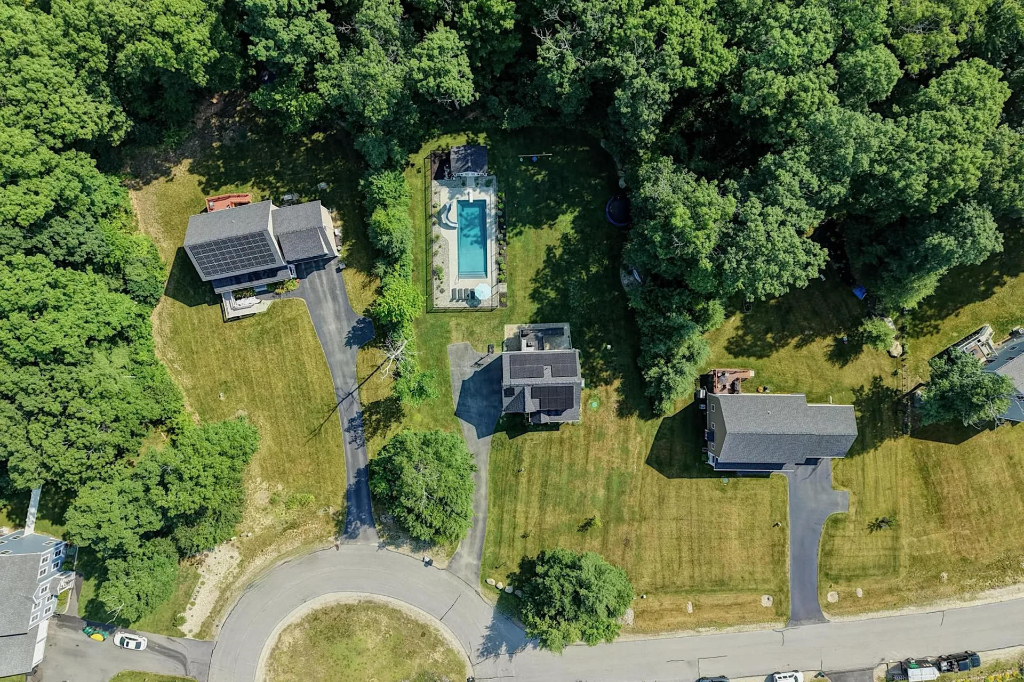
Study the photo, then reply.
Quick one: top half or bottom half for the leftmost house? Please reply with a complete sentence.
The leftmost house is in the bottom half of the image.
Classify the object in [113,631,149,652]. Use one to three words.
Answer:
car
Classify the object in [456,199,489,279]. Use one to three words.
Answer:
swimming pool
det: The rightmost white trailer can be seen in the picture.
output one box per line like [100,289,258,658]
[883,659,946,682]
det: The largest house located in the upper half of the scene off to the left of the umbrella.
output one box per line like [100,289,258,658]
[184,193,336,297]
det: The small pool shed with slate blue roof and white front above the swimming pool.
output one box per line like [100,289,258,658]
[450,142,488,177]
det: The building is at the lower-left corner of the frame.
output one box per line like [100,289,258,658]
[0,533,87,678]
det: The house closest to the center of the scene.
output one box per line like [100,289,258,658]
[502,322,581,424]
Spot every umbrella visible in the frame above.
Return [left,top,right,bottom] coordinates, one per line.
[475,284,492,301]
